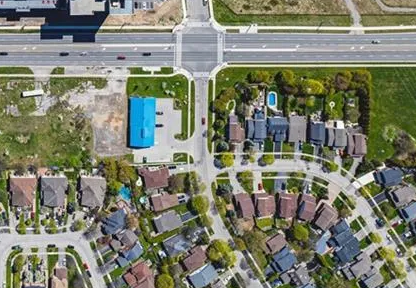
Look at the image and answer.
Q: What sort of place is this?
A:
residential area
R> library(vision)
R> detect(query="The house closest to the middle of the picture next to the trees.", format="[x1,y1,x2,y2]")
[225,117,244,143]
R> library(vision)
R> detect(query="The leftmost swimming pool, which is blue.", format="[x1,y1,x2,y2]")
[119,185,132,202]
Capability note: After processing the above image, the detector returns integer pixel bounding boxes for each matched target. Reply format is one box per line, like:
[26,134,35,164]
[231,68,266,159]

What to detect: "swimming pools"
[119,185,132,202]
[269,92,276,107]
